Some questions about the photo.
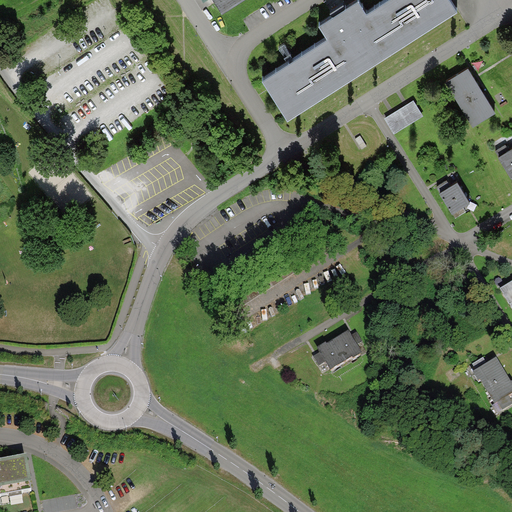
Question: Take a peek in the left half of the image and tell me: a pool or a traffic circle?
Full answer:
The one visible in the left half of the image is a traffic circle.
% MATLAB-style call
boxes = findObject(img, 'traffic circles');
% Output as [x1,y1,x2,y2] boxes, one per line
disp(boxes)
[74,354,150,430]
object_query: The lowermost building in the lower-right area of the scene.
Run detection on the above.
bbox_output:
[477,358,512,422]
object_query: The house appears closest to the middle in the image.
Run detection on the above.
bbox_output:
[312,329,366,374]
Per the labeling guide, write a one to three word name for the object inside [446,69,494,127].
house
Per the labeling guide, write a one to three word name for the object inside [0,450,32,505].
building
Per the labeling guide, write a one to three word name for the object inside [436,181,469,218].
house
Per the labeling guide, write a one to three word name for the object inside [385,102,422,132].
building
